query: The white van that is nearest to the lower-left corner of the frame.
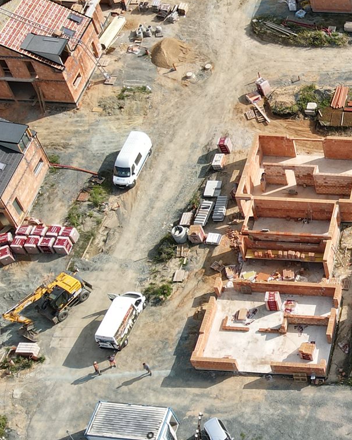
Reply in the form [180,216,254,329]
[93,292,153,357]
